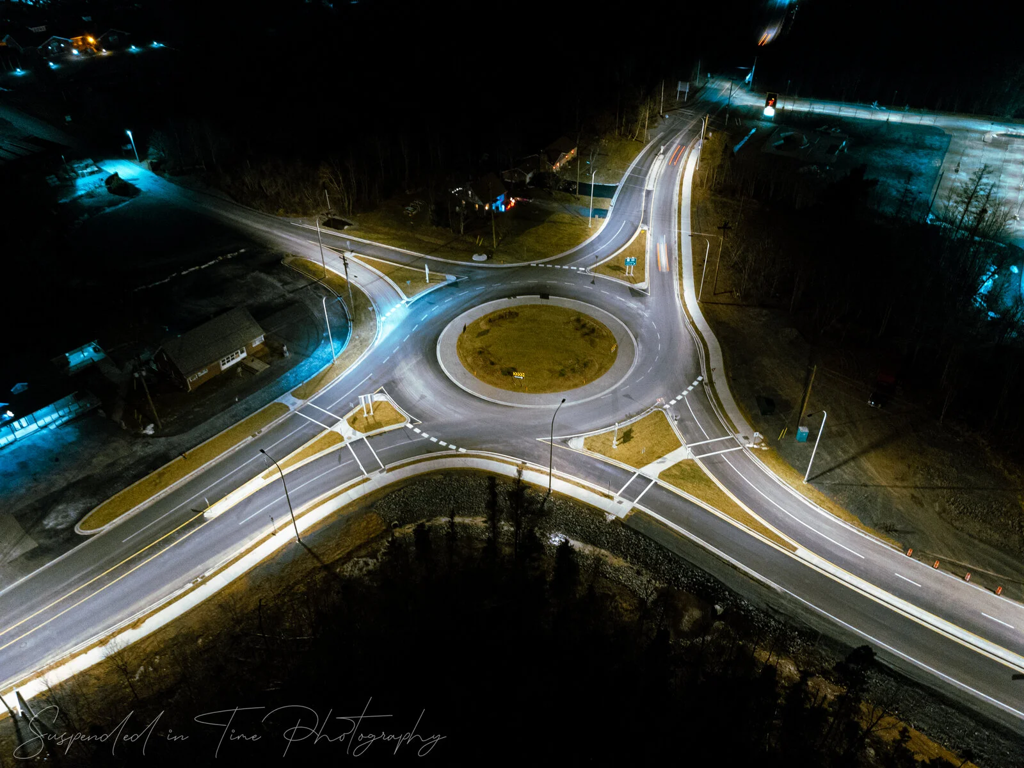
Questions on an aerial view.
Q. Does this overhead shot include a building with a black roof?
Yes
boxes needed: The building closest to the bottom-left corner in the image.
[0,346,88,460]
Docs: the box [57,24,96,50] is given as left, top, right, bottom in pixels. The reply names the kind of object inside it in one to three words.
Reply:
house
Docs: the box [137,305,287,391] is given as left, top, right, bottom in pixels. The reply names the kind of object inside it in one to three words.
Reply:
house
